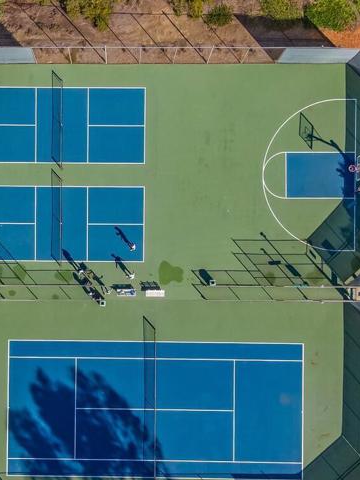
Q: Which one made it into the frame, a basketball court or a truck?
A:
basketball court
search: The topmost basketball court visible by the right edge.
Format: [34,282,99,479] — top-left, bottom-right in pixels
[261,98,356,251]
